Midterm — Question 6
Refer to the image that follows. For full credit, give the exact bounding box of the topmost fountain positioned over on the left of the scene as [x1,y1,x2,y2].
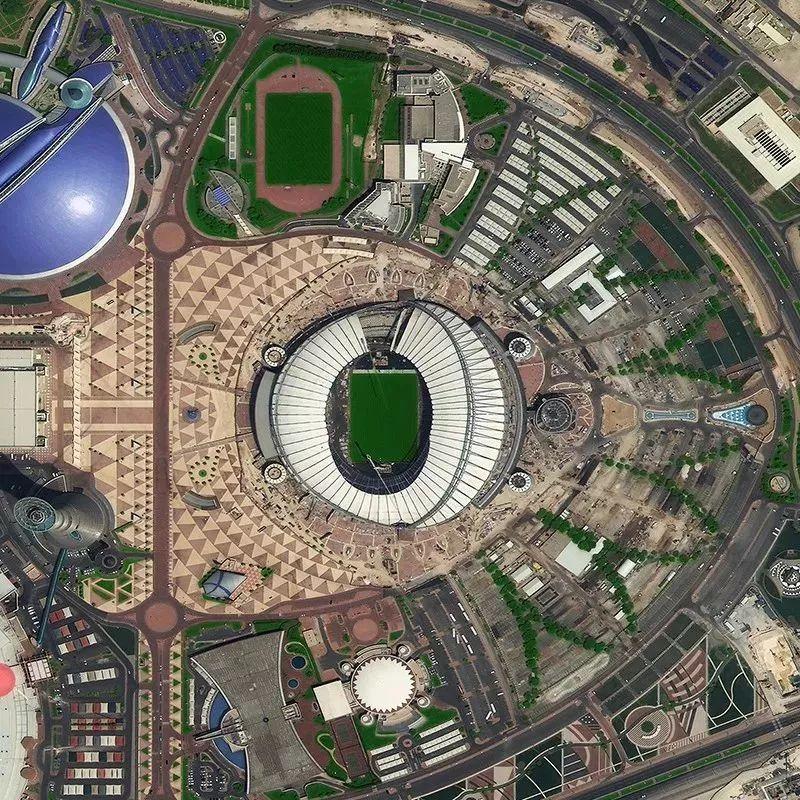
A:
[184,405,202,423]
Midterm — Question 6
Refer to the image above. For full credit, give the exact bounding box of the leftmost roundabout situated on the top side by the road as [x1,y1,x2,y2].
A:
[145,213,194,262]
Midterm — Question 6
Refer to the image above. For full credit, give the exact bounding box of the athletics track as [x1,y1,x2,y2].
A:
[256,64,342,215]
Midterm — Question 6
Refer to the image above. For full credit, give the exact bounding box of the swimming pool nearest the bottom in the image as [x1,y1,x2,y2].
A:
[209,691,247,771]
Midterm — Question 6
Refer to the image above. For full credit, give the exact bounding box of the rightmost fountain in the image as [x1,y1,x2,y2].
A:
[709,403,752,428]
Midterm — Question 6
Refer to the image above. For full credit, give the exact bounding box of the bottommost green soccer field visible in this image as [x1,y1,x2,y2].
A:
[350,372,417,463]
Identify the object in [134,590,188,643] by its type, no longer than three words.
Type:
roundabout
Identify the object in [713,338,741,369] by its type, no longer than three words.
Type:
tennis court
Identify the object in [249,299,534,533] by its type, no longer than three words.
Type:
stadium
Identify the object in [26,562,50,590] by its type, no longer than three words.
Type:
building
